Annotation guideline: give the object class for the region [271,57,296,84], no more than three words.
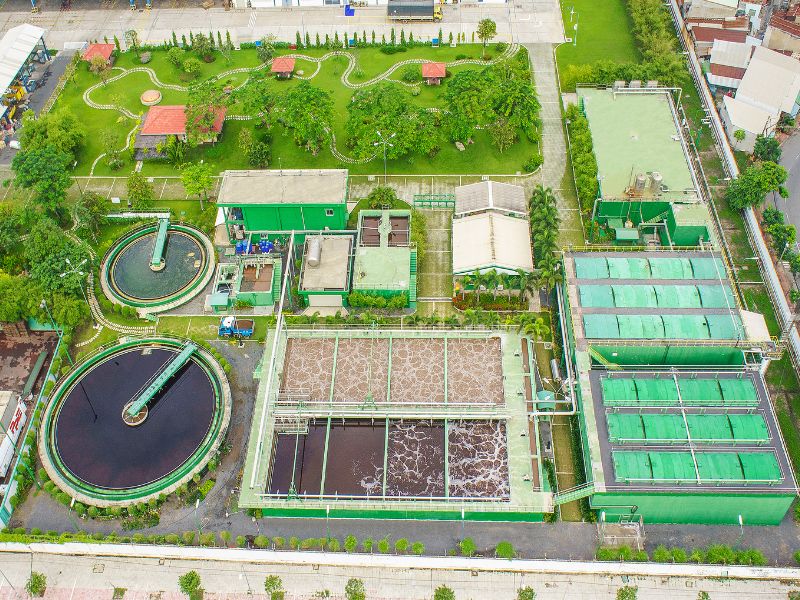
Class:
building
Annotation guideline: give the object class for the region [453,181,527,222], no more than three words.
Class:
shed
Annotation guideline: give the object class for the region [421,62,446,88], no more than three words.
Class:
building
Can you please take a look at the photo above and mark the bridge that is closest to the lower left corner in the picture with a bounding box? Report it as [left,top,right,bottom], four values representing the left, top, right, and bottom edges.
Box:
[124,345,199,419]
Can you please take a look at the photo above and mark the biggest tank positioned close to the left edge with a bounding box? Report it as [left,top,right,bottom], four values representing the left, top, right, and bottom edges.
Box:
[30,330,236,509]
